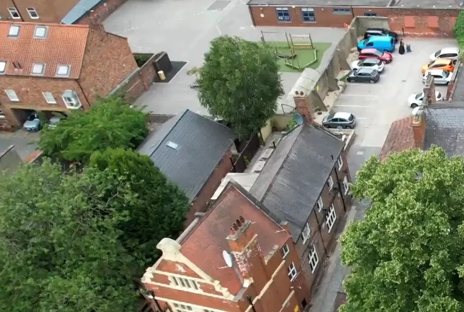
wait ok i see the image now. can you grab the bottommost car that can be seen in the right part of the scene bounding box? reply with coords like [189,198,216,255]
[321,107,361,129]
